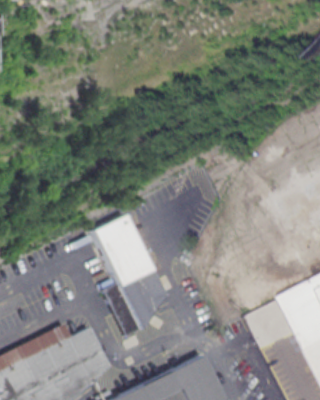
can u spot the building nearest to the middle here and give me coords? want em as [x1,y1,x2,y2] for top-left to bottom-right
[87,213,170,336]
